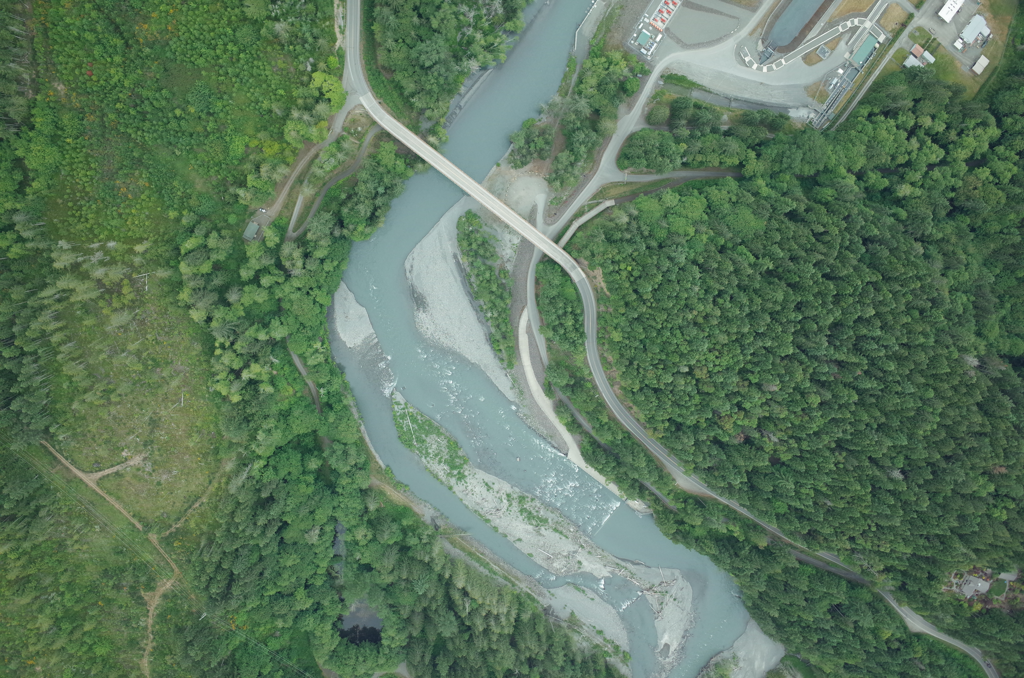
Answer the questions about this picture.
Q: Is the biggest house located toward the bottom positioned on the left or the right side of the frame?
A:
right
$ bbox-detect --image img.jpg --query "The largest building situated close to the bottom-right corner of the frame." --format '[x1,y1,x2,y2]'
[959,574,990,596]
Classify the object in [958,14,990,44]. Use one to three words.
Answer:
barn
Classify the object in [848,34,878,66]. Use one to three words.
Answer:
building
